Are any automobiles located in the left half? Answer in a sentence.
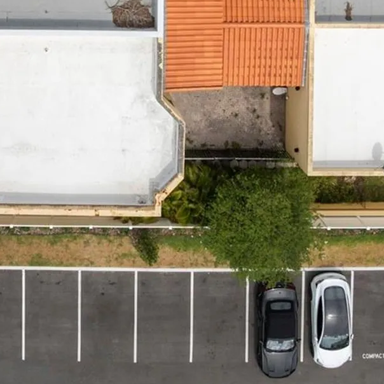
No, no automobile is visible in the left half.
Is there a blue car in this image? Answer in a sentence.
No, the photo shows no blue car.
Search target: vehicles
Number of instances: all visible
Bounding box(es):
[308,272,358,367]
[255,280,302,377]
